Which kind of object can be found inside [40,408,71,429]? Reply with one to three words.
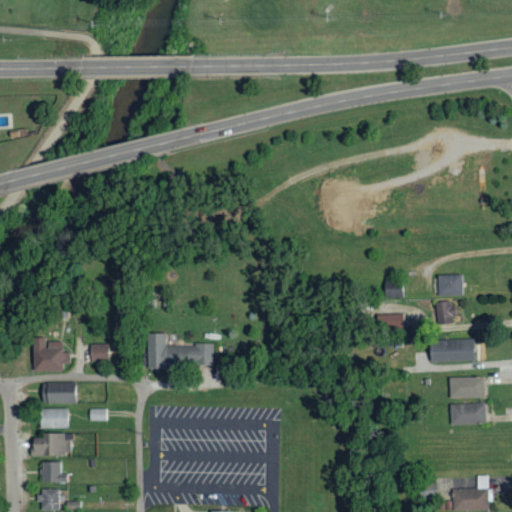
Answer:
house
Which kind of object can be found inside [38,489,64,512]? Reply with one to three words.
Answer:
house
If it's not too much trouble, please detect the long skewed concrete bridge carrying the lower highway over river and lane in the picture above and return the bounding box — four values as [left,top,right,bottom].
[3,132,172,192]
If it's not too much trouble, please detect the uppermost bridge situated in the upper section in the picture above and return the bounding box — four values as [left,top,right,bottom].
[81,56,194,77]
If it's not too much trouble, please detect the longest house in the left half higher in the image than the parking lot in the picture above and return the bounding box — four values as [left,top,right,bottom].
[148,333,214,369]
